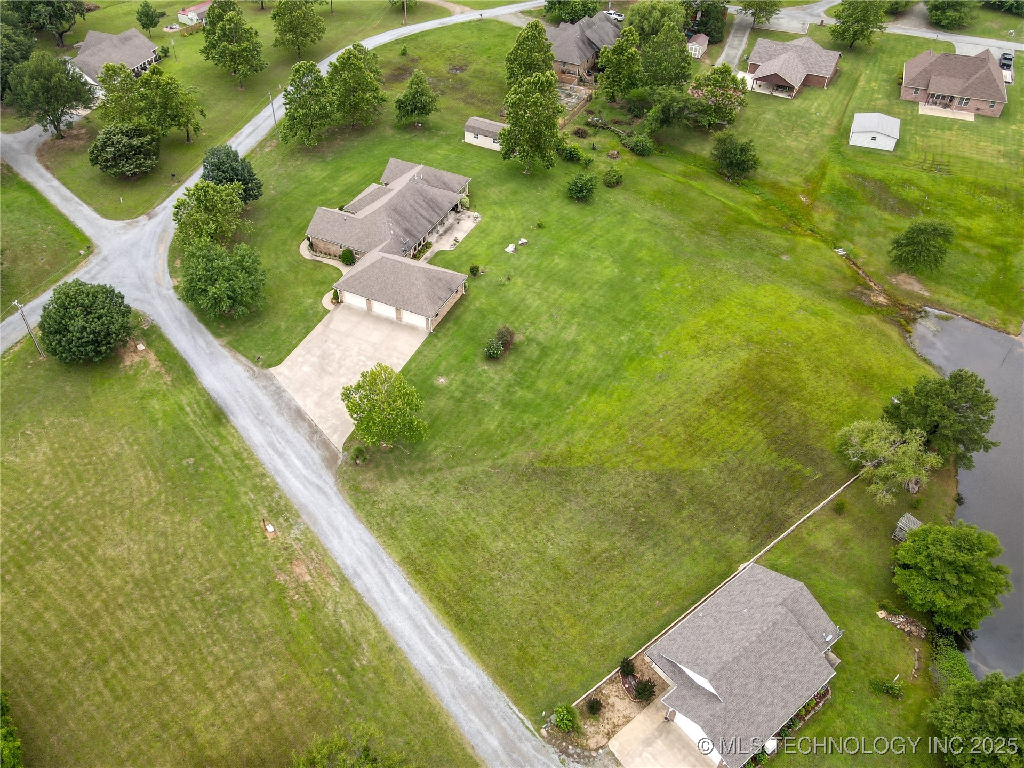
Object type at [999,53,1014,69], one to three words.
vehicle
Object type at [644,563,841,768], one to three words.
house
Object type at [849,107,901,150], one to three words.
shed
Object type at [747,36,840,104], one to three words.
house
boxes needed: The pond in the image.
[907,308,1024,685]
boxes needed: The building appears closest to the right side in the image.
[900,49,1008,118]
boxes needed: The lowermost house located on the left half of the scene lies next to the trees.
[305,157,472,336]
